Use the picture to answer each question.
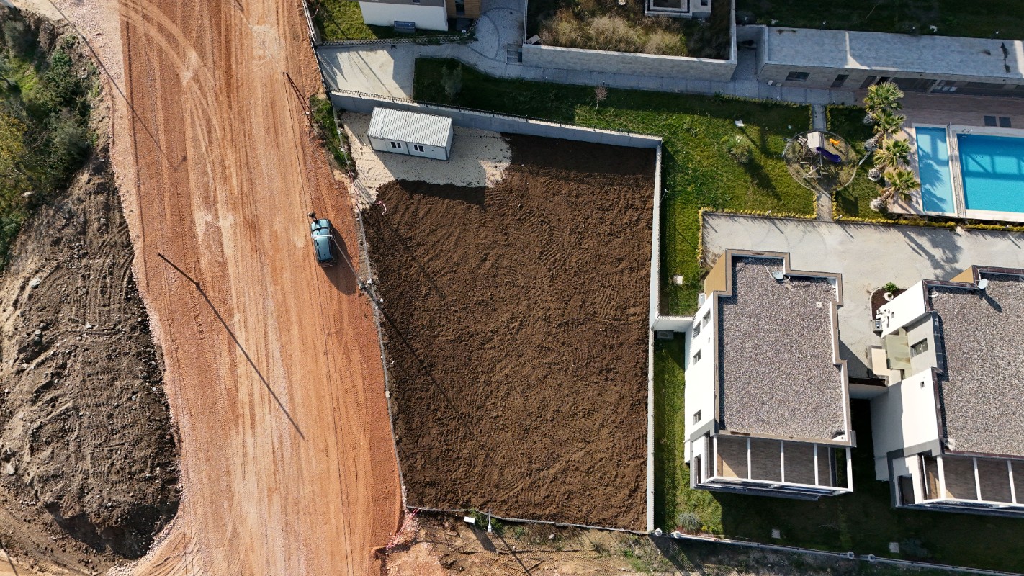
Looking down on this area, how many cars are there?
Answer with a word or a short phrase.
1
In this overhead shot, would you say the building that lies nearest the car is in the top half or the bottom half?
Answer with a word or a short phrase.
top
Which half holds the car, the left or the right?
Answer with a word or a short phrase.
left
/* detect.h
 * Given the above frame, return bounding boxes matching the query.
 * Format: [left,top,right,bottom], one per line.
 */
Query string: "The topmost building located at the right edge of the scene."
[756,26,1024,98]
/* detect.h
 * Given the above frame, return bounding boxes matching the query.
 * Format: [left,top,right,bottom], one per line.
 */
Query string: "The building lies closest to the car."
[367,105,453,160]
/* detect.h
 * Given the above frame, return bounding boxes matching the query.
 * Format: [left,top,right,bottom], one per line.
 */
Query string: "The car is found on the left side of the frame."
[306,219,339,268]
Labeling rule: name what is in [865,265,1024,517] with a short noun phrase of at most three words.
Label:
house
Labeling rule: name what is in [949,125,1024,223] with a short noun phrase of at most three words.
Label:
swimming pool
